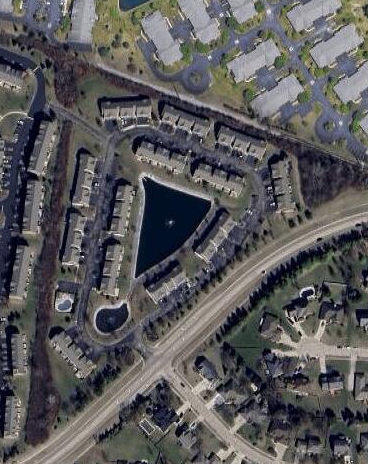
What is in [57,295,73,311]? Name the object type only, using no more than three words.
swimming pool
